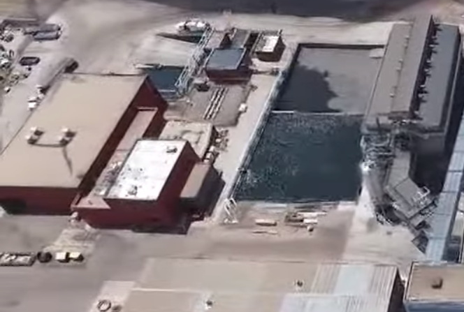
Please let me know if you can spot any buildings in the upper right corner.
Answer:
Yes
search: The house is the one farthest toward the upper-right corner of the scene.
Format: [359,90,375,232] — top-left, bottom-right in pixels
[361,7,464,163]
